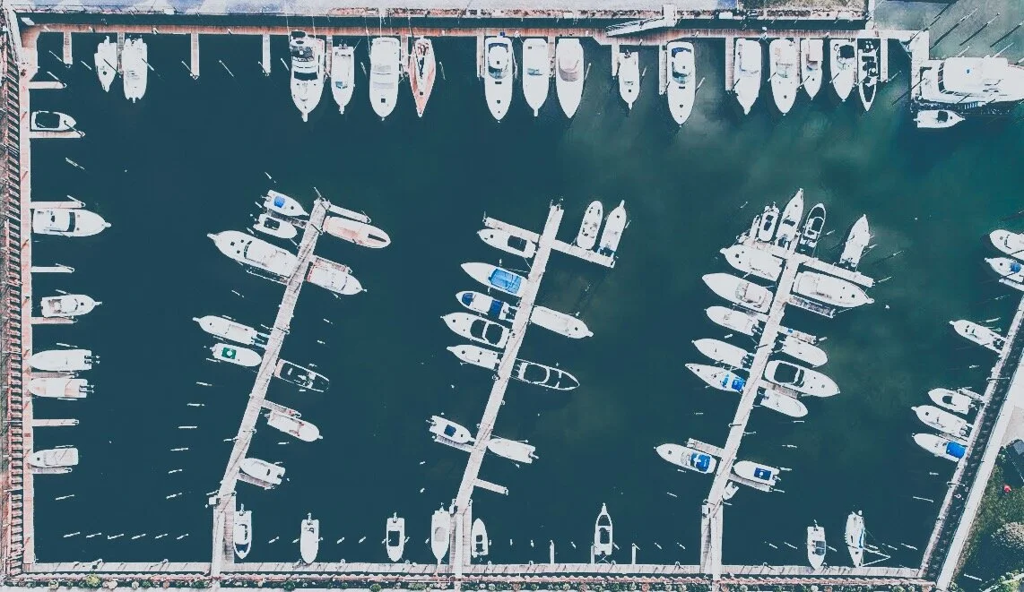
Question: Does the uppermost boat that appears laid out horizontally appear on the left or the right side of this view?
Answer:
right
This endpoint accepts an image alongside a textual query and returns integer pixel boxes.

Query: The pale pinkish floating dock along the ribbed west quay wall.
[18,47,87,563]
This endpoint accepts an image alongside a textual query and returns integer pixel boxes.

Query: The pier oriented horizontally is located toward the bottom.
[23,537,921,575]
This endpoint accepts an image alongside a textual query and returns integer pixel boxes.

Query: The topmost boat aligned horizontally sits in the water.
[908,54,1024,111]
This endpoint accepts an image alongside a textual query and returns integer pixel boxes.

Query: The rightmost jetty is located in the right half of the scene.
[920,278,1024,577]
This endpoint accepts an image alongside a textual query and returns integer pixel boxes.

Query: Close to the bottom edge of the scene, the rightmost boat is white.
[843,504,888,567]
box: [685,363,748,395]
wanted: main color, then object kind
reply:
white boat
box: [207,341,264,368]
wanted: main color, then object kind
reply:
white boat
